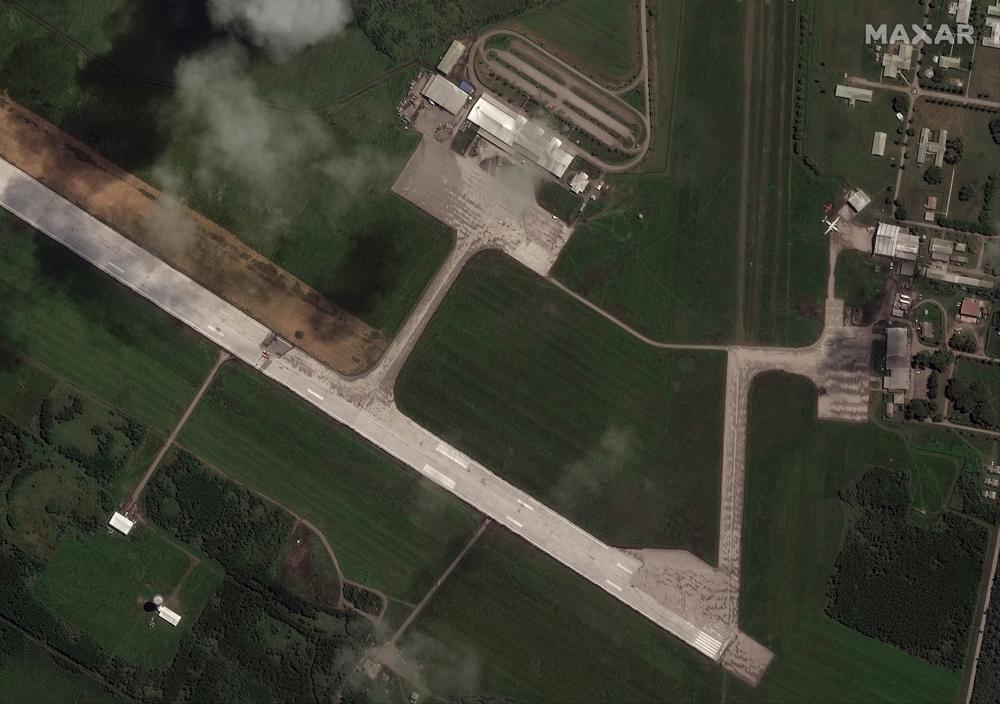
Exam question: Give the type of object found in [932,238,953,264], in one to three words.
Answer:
building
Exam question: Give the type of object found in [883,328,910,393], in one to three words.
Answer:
hangar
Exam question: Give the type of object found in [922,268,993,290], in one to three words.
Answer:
shed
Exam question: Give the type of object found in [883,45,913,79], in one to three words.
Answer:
house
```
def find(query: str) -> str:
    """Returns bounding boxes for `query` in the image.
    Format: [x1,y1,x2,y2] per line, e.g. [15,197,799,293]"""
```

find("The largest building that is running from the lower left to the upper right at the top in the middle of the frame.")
[438,40,465,77]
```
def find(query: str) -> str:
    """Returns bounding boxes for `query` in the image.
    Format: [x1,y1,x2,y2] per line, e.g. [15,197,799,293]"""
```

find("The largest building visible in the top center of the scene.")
[468,93,578,181]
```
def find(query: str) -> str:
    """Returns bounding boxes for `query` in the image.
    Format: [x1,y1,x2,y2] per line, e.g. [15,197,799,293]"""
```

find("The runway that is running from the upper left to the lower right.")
[0,157,732,659]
